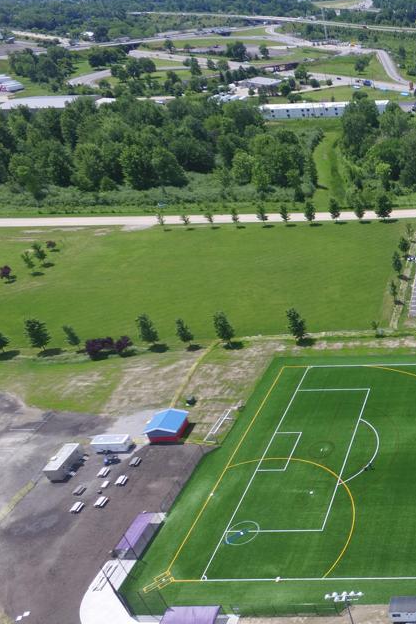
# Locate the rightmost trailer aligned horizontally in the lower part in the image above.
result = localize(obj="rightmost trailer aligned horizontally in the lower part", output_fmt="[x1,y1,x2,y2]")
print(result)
[90,434,134,454]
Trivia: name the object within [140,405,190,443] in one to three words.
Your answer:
shed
